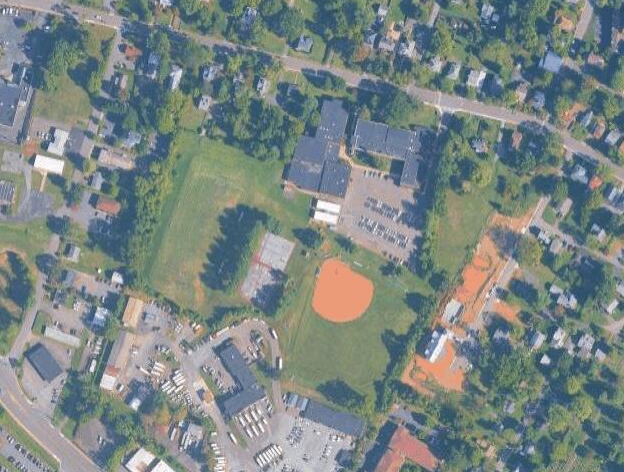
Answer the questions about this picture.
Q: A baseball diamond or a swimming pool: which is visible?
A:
baseball diamond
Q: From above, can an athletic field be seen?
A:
Yes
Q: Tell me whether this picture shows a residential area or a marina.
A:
residential area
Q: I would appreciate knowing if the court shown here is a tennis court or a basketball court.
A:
tennis court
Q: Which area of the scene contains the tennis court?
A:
center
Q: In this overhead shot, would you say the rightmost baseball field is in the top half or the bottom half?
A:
bottom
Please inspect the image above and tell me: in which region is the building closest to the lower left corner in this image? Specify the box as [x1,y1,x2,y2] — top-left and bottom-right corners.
[23,343,62,384]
